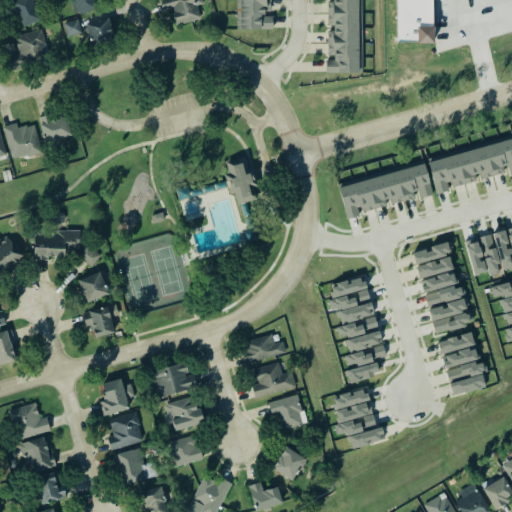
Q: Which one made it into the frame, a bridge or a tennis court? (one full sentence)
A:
It is a tennis court that can be seen here.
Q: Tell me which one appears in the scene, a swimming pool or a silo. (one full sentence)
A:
This aerial view contains a swimming pool.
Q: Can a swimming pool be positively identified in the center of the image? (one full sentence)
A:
Yes, there is a swimming pool in the center of the image.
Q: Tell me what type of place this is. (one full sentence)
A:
The area seen from above is a residential area.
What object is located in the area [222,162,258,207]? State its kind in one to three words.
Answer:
building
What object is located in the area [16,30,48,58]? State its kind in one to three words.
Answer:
house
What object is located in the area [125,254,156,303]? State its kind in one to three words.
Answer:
tennis court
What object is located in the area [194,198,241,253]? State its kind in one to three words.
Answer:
swimming pool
